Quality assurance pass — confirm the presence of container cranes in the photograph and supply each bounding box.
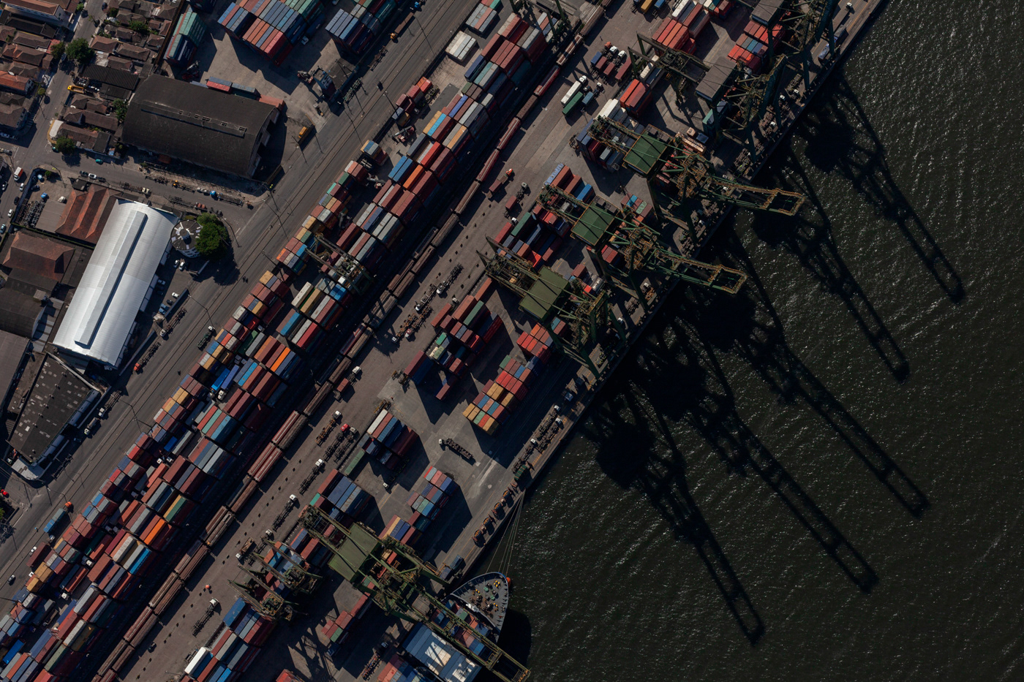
[537,183,749,317]
[227,564,304,626]
[589,114,804,249]
[304,235,374,296]
[474,234,540,292]
[250,537,324,598]
[656,38,786,169]
[505,0,569,29]
[484,251,630,384]
[302,510,530,682]
[626,31,687,95]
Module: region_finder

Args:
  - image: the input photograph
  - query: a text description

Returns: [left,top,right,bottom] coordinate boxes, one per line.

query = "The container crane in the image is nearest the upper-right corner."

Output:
[748,0,840,92]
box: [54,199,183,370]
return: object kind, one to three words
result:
warehouse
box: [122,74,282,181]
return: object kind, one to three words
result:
building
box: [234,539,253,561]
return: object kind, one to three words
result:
vehicle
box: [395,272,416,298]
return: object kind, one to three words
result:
rail car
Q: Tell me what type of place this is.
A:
port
